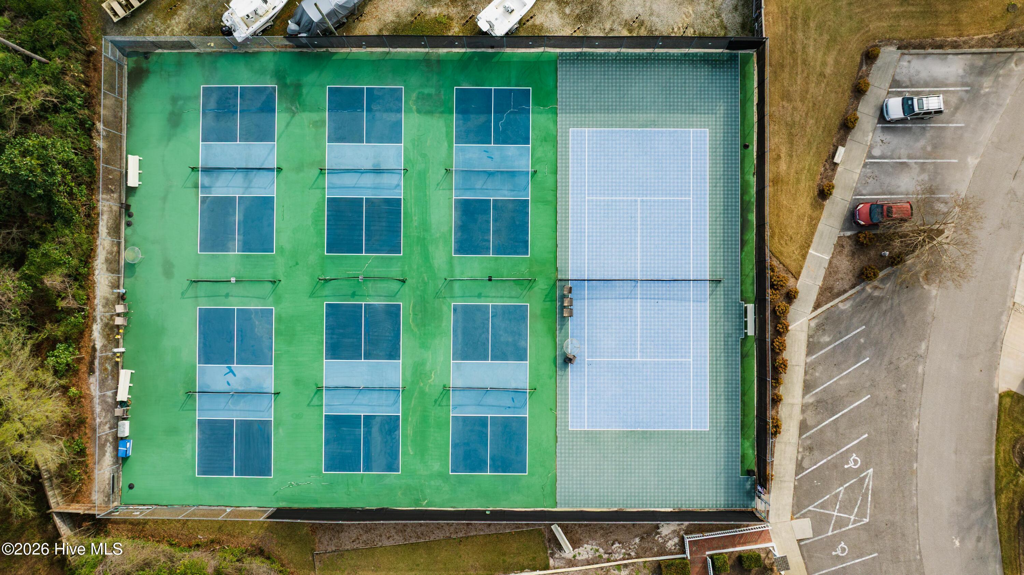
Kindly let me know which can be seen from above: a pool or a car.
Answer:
car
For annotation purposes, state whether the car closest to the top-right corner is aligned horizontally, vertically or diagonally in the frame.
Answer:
horizontally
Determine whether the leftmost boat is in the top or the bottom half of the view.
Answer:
top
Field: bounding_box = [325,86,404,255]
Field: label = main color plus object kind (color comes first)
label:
blue sports court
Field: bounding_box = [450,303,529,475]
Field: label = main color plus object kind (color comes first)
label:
blue sports court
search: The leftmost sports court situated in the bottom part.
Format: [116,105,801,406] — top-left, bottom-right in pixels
[196,307,274,478]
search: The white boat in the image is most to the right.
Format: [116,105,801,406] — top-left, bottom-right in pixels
[480,0,540,36]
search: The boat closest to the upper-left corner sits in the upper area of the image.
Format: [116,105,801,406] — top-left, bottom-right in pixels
[102,0,149,24]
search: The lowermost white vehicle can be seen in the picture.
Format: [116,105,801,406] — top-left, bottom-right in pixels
[878,92,943,122]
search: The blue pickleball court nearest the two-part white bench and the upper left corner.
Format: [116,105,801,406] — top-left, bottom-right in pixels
[198,85,277,253]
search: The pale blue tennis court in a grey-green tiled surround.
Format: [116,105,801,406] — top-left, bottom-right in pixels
[556,52,755,508]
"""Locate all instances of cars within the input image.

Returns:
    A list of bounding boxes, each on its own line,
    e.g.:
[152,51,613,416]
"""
[878,92,943,122]
[851,197,915,227]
